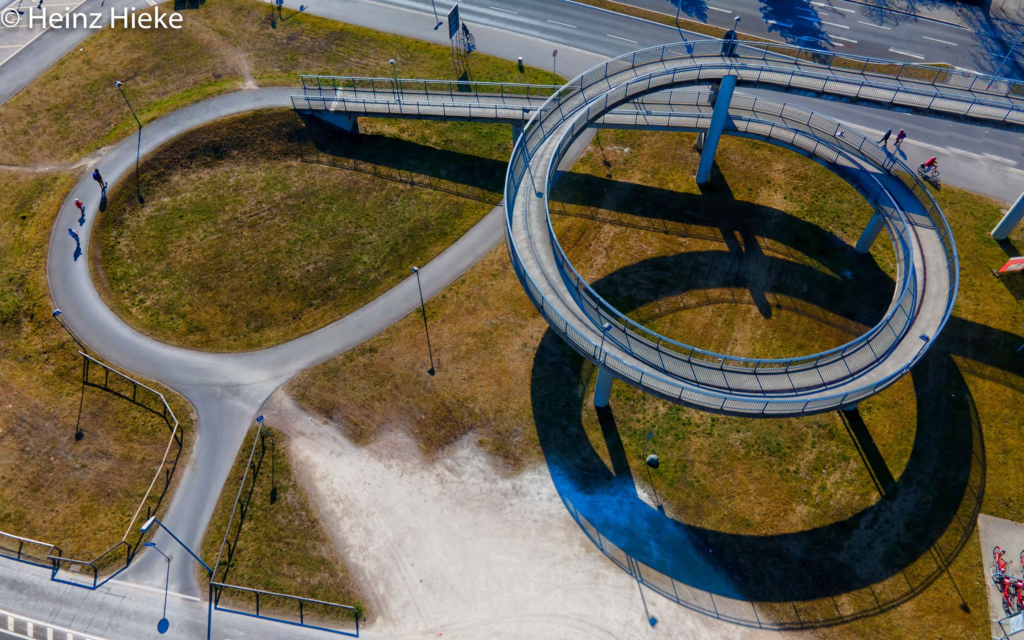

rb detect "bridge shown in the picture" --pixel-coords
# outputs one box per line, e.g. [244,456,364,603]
[289,31,1024,418]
